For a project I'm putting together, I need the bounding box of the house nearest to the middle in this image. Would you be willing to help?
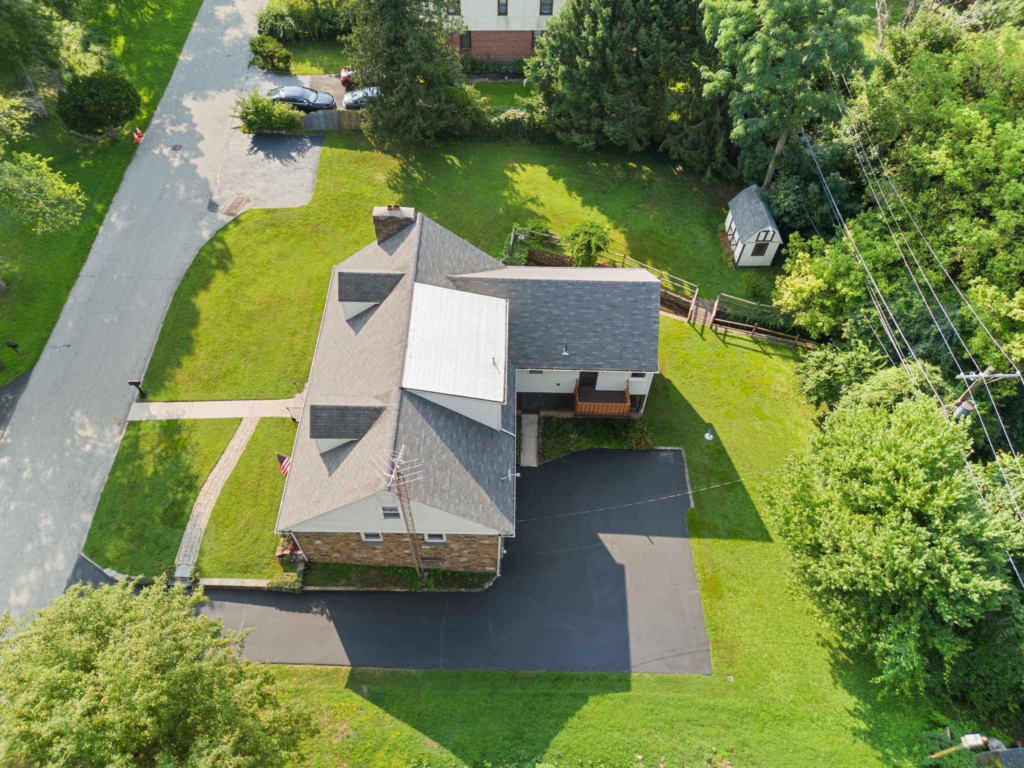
[270,203,663,582]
